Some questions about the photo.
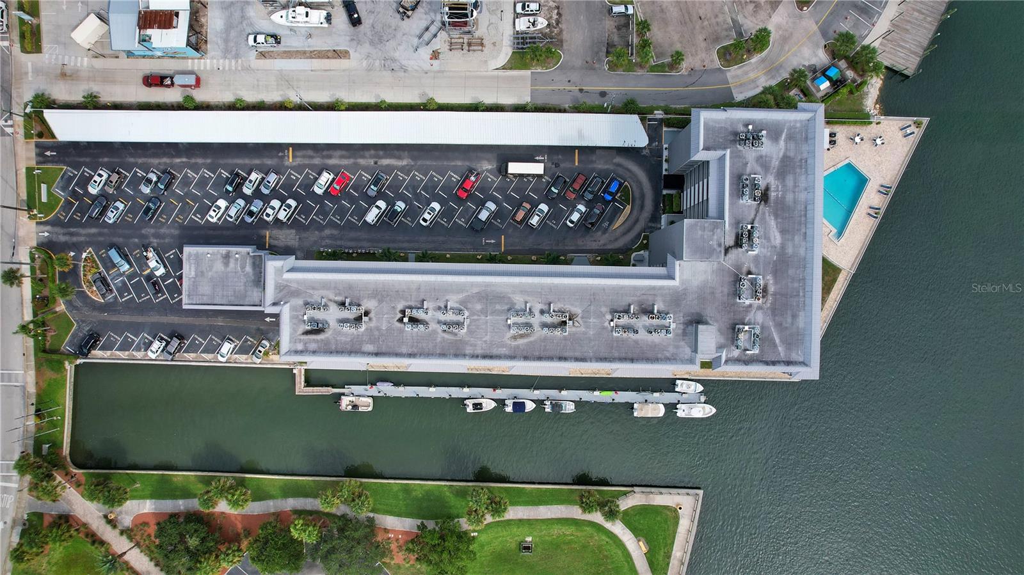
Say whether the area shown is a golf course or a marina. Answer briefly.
marina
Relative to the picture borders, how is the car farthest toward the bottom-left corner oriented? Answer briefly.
diagonally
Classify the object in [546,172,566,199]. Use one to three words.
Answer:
car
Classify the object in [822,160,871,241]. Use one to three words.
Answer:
swimming pool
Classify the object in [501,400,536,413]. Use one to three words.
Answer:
boat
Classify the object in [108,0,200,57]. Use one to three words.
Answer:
shed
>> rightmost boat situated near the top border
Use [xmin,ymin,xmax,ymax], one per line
[515,16,547,31]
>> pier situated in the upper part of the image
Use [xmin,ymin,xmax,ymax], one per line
[877,0,949,77]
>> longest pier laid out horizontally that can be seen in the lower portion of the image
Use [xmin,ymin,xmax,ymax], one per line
[345,385,712,404]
